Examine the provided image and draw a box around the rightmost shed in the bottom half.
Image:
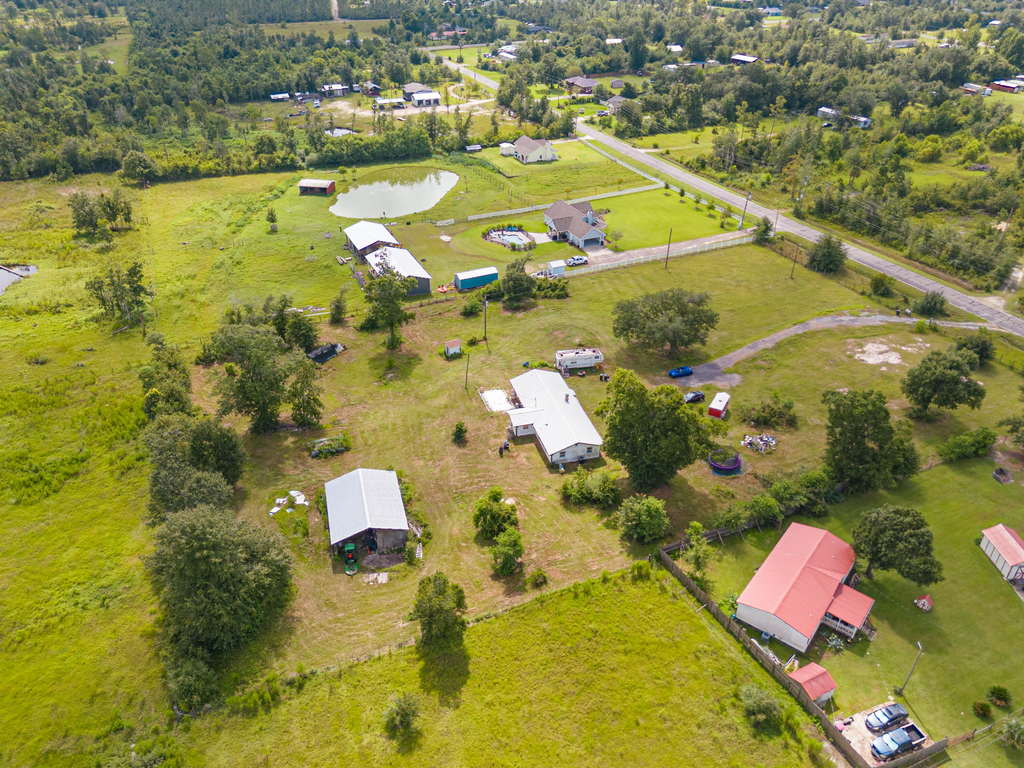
[979,527,1024,586]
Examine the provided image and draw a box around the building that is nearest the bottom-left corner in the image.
[325,471,409,558]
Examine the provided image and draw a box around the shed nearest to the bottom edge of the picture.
[788,662,837,708]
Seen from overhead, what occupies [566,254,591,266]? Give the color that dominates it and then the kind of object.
white vehicle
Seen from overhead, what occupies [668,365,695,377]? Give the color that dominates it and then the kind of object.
blue vehicle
